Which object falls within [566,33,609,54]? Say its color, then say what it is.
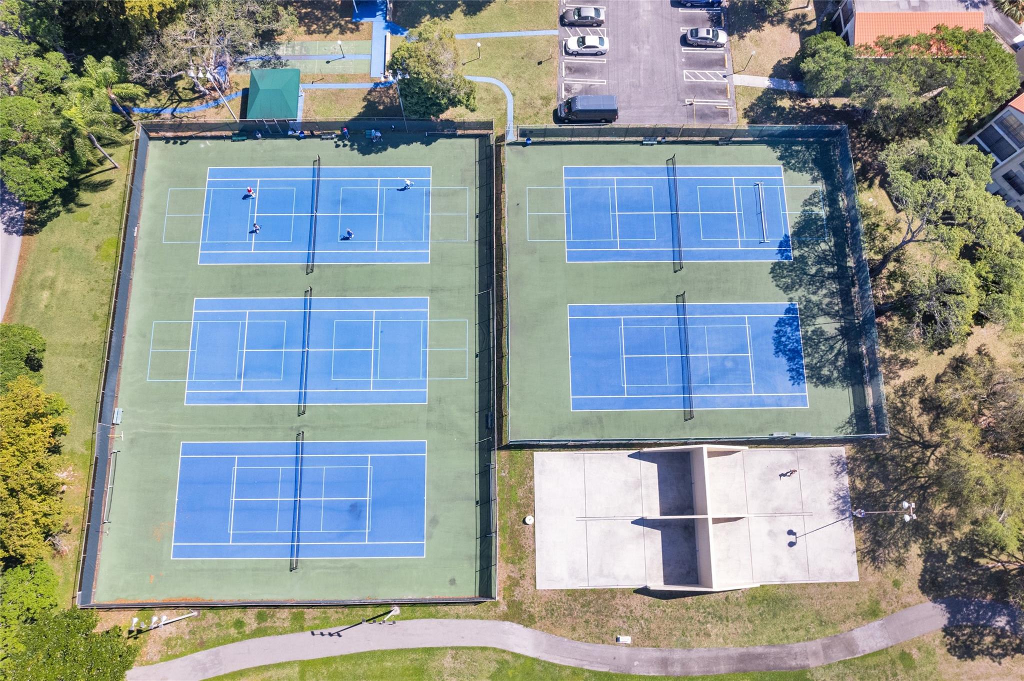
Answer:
white car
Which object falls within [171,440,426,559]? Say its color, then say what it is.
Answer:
blue tennis court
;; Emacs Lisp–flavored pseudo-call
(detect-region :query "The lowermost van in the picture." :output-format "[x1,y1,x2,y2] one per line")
[556,94,616,122]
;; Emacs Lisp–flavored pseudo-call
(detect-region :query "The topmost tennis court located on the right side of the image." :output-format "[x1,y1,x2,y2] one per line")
[528,166,827,262]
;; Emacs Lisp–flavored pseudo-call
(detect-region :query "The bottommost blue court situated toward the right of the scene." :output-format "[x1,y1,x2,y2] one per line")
[568,303,808,410]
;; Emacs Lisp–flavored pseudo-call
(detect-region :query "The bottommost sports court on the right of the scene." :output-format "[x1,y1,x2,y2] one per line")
[534,447,859,589]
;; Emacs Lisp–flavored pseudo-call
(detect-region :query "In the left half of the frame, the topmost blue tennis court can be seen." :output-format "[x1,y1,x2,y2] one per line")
[163,166,468,264]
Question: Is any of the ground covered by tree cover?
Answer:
Yes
